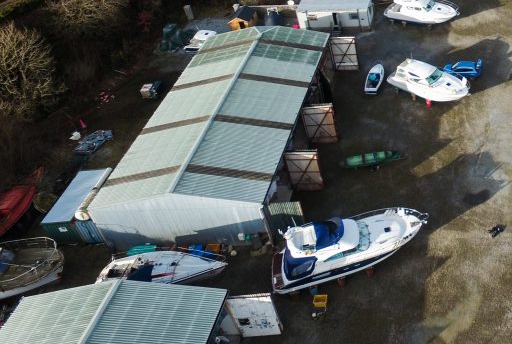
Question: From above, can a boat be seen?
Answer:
Yes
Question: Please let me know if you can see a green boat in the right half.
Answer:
Yes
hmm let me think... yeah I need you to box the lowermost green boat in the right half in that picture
[344,153,399,169]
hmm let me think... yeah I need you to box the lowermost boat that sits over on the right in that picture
[268,212,428,307]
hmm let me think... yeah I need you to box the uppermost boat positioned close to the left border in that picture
[0,169,42,236]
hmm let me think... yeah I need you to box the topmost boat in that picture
[383,0,459,27]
